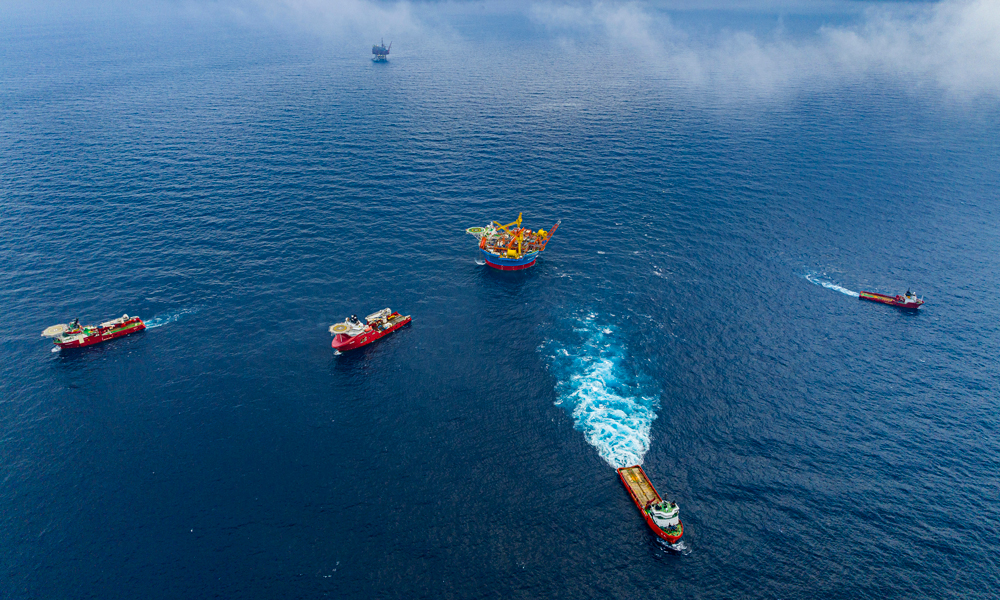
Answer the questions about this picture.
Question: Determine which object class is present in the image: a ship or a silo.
ship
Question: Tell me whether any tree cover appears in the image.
No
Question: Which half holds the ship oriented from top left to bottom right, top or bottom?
bottom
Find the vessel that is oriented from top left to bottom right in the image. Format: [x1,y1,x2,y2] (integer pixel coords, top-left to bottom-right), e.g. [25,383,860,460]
[618,466,680,541]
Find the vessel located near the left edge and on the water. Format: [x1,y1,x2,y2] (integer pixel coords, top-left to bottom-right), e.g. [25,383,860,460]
[41,315,145,348]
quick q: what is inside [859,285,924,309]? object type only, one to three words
ship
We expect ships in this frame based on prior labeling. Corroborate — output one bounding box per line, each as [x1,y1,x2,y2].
[618,466,680,541]
[330,308,410,351]
[859,285,924,309]
[41,315,145,348]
